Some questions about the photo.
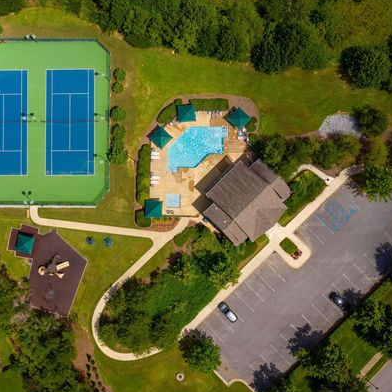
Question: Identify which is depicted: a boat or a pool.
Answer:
pool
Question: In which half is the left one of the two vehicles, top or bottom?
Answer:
bottom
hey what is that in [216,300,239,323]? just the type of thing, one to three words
vehicle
